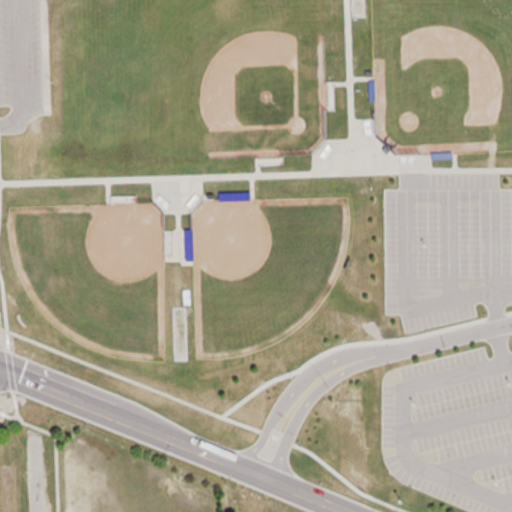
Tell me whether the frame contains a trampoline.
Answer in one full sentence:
No, I can see no trampoline in this picture.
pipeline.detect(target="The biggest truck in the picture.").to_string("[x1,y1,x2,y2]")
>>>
[190,439,236,462]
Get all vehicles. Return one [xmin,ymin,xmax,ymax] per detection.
[26,380,38,389]
[314,488,324,496]
[190,439,236,462]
